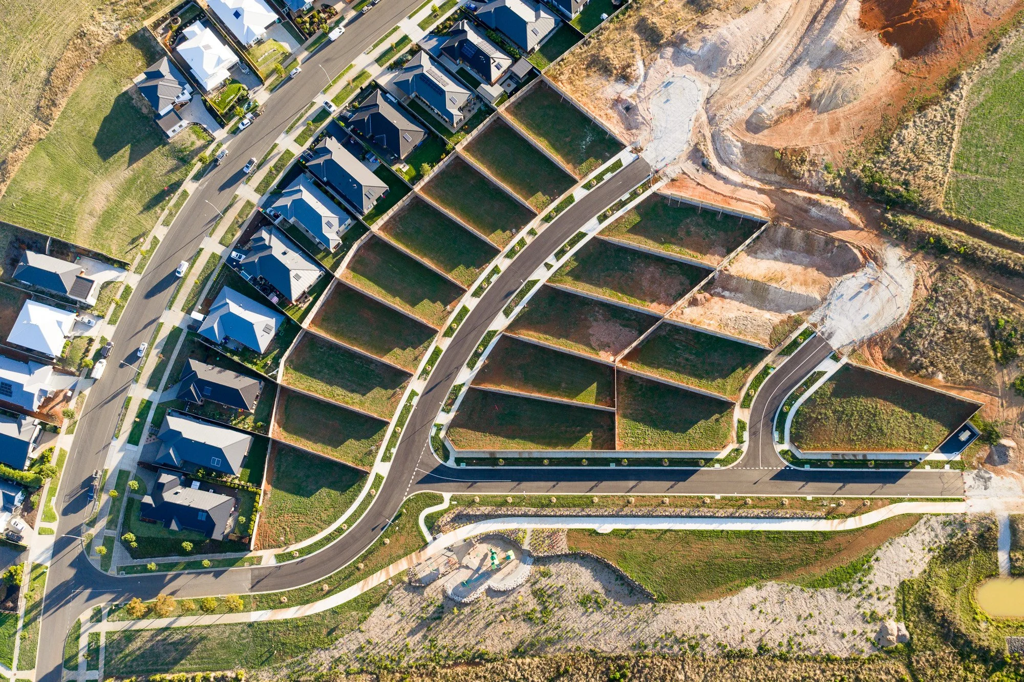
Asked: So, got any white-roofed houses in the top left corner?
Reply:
Yes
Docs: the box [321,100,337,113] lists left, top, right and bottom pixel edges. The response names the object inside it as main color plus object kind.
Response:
white vehicle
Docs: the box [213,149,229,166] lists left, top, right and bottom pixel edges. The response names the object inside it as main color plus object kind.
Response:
gray vehicle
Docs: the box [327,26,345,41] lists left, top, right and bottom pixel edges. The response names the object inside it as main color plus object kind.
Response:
white vehicle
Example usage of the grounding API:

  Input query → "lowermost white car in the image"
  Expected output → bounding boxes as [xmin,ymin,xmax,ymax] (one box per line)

[12,518,27,532]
